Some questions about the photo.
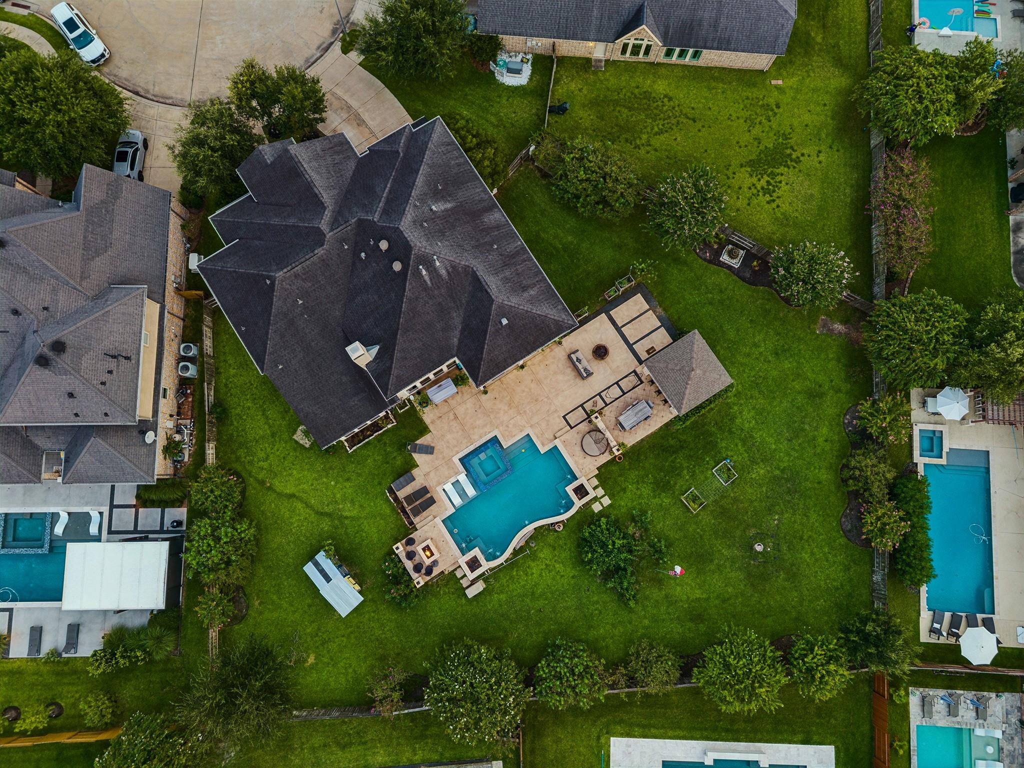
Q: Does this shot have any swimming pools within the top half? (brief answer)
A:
Yes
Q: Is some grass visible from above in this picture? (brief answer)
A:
Yes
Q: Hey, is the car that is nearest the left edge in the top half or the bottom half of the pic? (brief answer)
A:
top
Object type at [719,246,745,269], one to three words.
fountain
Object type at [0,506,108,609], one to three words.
swimming pool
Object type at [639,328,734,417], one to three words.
building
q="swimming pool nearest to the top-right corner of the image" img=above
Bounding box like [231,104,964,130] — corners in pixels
[971,11,1004,39]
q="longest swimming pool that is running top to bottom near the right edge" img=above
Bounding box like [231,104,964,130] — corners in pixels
[918,442,1002,621]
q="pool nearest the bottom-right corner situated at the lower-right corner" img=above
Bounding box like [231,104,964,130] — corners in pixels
[914,722,1000,768]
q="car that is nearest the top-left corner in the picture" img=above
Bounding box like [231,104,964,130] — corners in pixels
[48,0,116,74]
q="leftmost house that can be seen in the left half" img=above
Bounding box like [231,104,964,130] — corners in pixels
[0,163,189,486]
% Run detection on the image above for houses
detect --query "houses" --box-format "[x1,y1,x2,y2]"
[462,0,798,72]
[195,116,578,450]
[0,163,189,486]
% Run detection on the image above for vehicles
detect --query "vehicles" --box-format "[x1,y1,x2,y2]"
[48,0,116,74]
[109,131,150,184]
